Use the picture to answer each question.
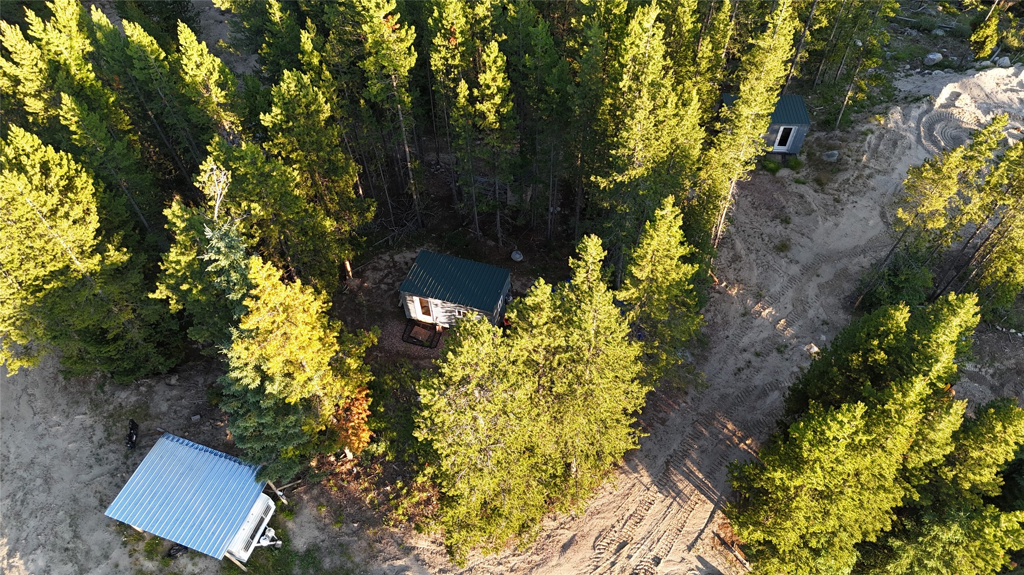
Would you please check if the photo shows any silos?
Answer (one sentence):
No, the picture doesn't show any silo.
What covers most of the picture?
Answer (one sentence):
What you mostly see from above here is trees.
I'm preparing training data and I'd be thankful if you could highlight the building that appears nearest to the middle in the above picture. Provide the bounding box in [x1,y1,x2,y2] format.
[398,249,512,339]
